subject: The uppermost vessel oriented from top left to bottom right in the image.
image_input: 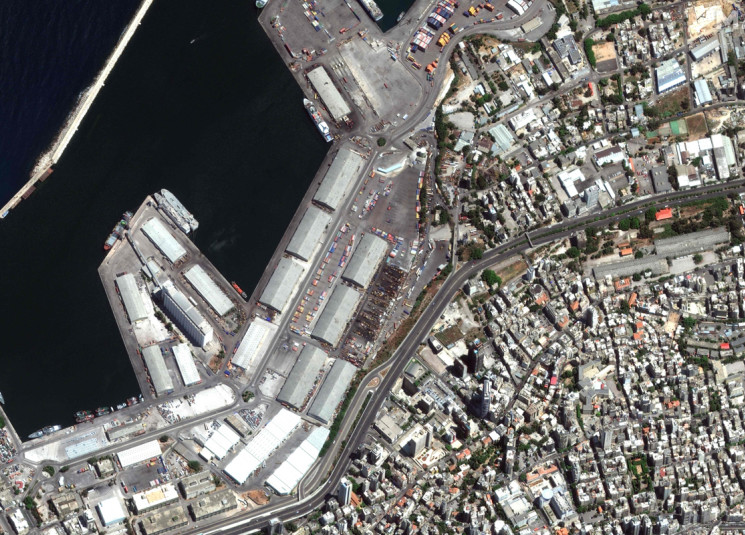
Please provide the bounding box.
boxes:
[360,0,385,23]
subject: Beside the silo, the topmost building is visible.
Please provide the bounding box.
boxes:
[141,218,186,264]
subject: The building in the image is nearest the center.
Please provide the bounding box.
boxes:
[342,232,389,290]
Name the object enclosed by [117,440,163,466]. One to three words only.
building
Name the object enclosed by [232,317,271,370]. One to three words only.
building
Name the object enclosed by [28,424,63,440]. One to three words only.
ship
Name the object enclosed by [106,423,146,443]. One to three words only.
shed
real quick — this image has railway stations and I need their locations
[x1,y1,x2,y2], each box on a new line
[590,227,729,277]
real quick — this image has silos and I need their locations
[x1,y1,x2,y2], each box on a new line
[162,280,213,347]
